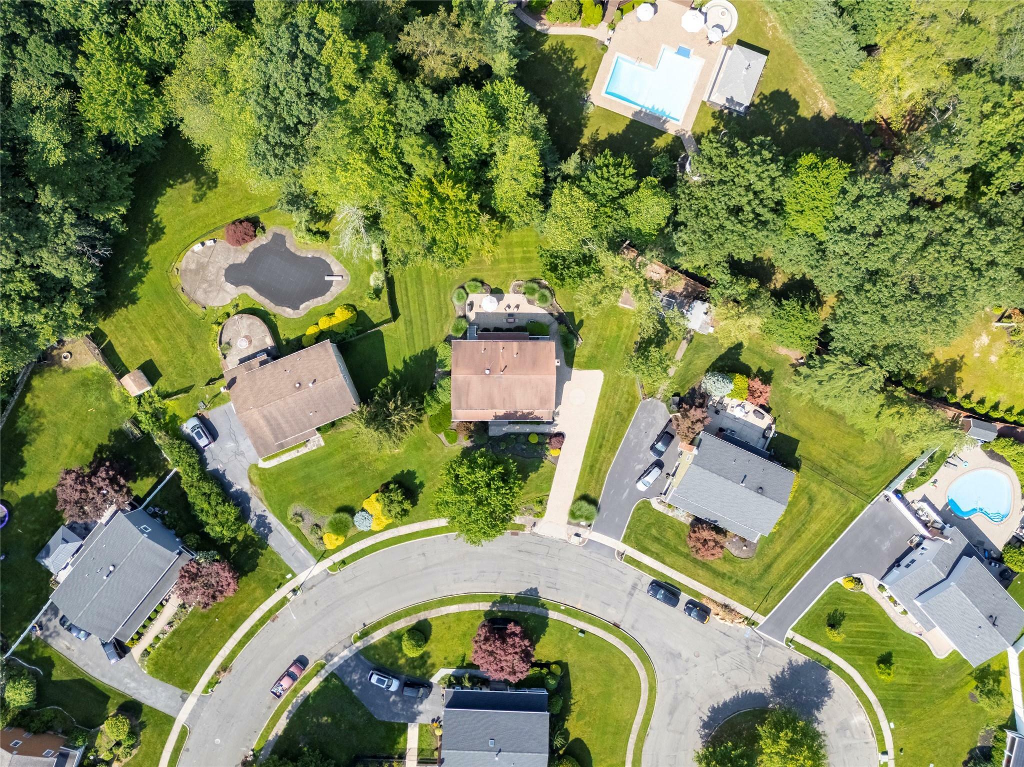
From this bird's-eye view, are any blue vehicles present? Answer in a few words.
Yes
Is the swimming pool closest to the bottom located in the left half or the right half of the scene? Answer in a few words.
right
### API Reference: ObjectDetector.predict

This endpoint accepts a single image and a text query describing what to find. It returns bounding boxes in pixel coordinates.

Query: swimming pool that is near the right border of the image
[946,468,1015,524]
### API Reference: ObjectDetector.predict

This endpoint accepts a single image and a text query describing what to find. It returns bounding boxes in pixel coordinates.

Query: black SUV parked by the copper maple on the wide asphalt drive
[649,427,676,460]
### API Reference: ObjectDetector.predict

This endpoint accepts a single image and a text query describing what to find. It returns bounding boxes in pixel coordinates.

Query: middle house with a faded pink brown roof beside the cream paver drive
[451,325,561,426]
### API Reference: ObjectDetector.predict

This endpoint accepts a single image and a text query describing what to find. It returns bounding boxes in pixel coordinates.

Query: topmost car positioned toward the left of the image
[186,417,214,450]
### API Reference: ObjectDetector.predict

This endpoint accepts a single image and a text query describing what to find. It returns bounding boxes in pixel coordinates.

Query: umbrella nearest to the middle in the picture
[482,296,498,312]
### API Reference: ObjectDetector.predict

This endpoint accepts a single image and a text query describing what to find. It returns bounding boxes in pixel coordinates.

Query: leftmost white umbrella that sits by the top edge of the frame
[637,5,653,23]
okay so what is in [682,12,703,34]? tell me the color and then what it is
white umbrella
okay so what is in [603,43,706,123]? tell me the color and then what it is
white swimming pool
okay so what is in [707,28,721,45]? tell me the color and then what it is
white umbrella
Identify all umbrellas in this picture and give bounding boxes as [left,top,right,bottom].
[682,12,703,34]
[482,296,498,312]
[733,405,745,417]
[637,5,653,23]
[707,28,721,45]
